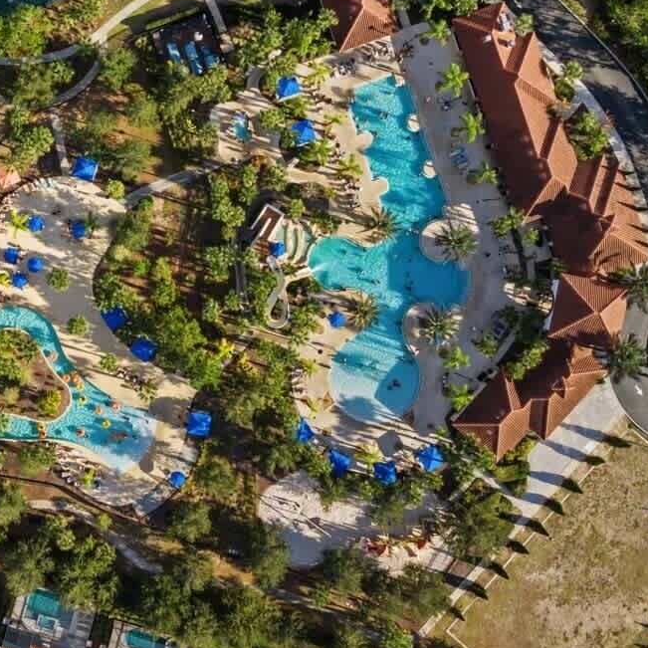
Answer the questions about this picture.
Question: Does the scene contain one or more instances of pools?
Yes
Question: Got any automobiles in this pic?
No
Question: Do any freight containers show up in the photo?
No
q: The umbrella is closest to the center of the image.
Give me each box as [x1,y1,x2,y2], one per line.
[327,311,344,327]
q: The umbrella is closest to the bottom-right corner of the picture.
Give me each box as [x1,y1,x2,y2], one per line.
[417,536,430,549]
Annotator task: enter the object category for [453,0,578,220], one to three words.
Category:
building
